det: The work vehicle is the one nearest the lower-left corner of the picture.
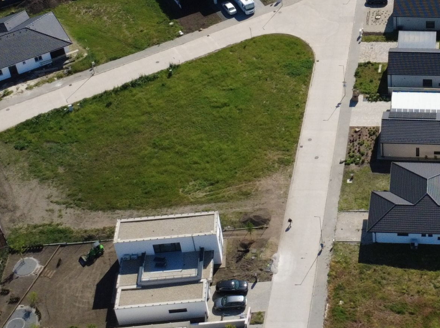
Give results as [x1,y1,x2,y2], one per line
[76,241,102,267]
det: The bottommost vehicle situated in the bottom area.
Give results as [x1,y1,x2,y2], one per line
[212,293,246,310]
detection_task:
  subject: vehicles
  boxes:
[220,0,238,14]
[213,276,249,293]
[76,241,102,267]
[237,0,254,12]
[212,293,246,310]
